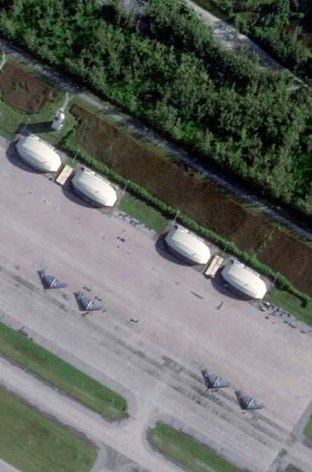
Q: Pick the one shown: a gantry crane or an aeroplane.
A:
aeroplane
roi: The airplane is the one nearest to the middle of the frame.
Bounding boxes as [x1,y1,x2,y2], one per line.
[78,291,103,309]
